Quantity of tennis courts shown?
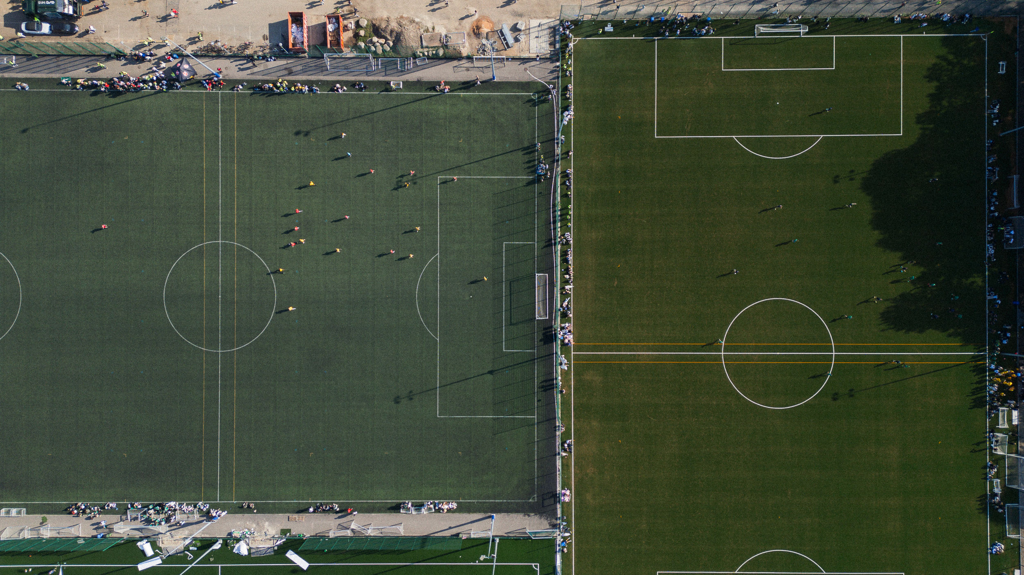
zero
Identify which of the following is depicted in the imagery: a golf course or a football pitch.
football pitch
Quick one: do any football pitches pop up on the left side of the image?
Yes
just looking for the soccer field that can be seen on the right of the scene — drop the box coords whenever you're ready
[560,16,1021,575]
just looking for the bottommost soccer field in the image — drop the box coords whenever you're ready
[0,539,556,575]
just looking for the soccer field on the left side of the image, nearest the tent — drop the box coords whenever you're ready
[0,78,556,514]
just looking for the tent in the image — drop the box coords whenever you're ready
[170,56,201,87]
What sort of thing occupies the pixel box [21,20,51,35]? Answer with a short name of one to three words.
car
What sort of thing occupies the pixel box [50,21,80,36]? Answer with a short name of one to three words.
car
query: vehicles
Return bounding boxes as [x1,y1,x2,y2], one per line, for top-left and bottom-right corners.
[50,21,80,36]
[25,0,92,18]
[21,20,51,35]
